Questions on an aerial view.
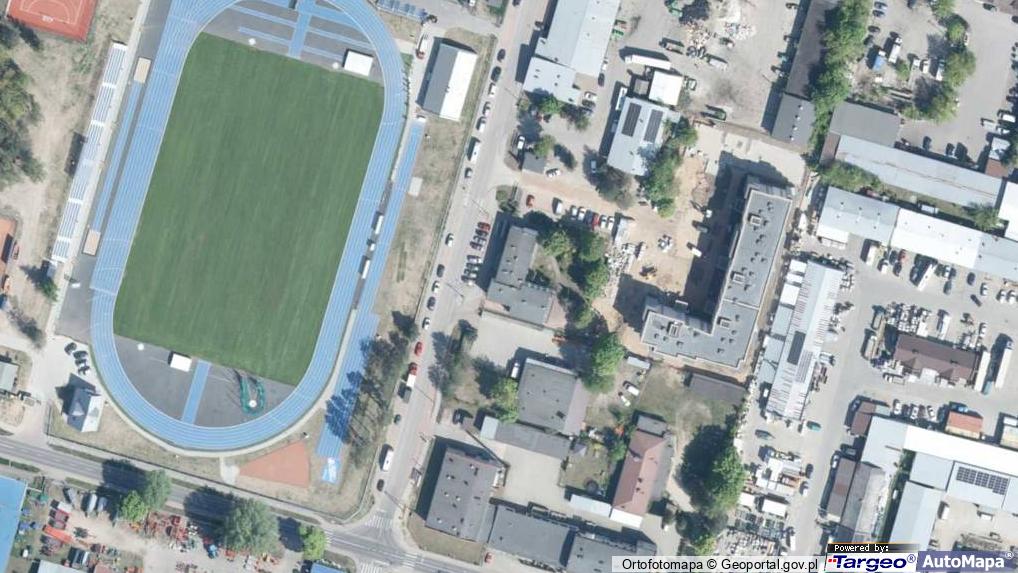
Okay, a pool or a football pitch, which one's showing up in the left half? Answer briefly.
football pitch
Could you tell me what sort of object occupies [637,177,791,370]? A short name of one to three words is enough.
building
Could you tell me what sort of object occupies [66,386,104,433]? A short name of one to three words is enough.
house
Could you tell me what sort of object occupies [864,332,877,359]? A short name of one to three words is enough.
vehicle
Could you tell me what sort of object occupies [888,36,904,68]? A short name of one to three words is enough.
vehicle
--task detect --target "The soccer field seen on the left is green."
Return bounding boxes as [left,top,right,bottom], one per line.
[116,31,384,385]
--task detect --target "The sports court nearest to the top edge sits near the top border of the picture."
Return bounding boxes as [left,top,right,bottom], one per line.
[5,0,95,39]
